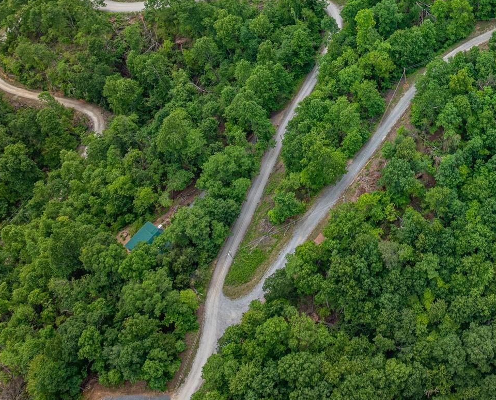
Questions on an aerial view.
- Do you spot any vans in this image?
No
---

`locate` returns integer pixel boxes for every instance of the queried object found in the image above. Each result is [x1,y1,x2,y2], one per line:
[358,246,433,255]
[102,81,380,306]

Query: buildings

[122,221,171,257]
[312,233,329,249]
